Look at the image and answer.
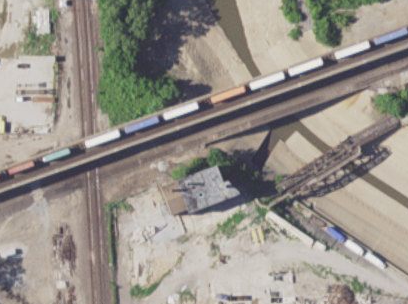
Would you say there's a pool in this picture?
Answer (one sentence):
No, I find no pool anywhere in the image.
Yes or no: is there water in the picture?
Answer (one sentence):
Yes, there's water in this view.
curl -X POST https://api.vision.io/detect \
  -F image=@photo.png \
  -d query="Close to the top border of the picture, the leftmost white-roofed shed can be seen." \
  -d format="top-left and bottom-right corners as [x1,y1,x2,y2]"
[37,9,50,34]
